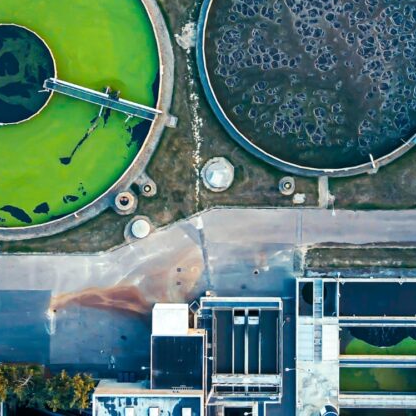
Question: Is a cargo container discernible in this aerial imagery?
No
